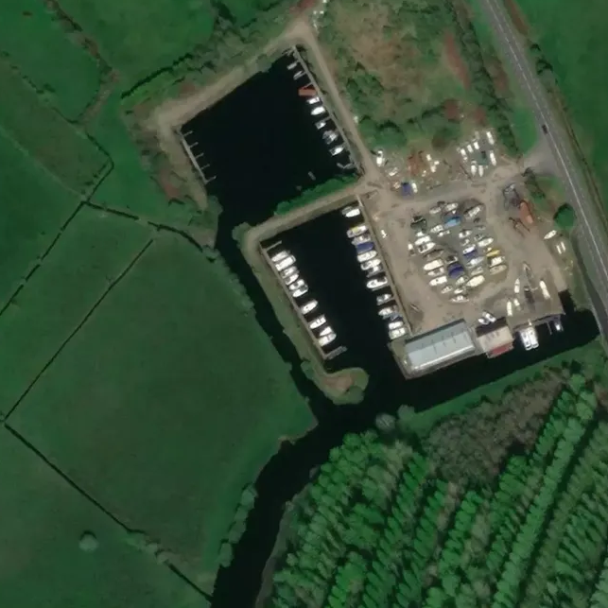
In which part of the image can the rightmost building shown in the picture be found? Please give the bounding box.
[478,324,518,360]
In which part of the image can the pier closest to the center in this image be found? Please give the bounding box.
[259,240,347,359]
